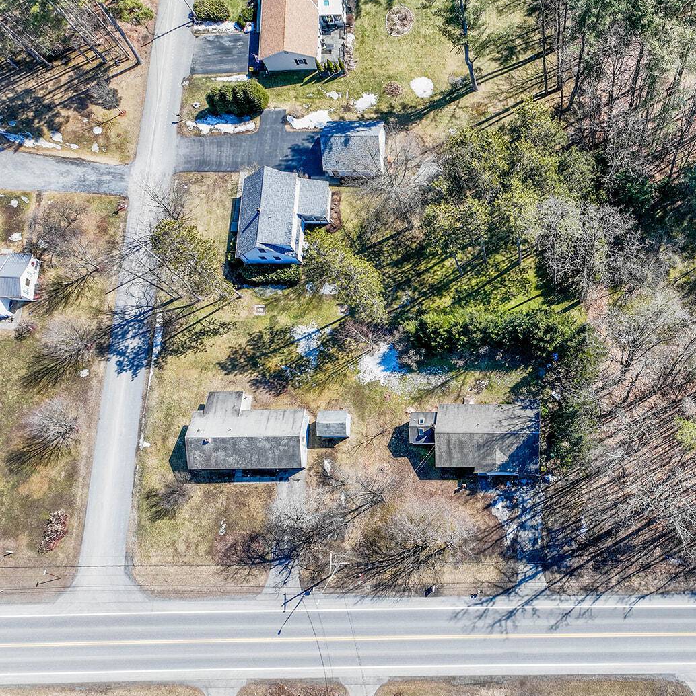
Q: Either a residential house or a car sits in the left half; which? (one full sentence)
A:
It is a residential house that can be seen in the left half.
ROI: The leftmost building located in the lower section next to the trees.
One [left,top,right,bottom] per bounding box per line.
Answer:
[184,392,310,471]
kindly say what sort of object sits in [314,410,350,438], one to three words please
shed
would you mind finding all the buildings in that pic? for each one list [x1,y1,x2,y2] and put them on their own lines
[259,0,346,69]
[320,121,385,178]
[314,410,350,438]
[184,392,310,471]
[0,252,39,310]
[408,405,539,475]
[237,164,336,265]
